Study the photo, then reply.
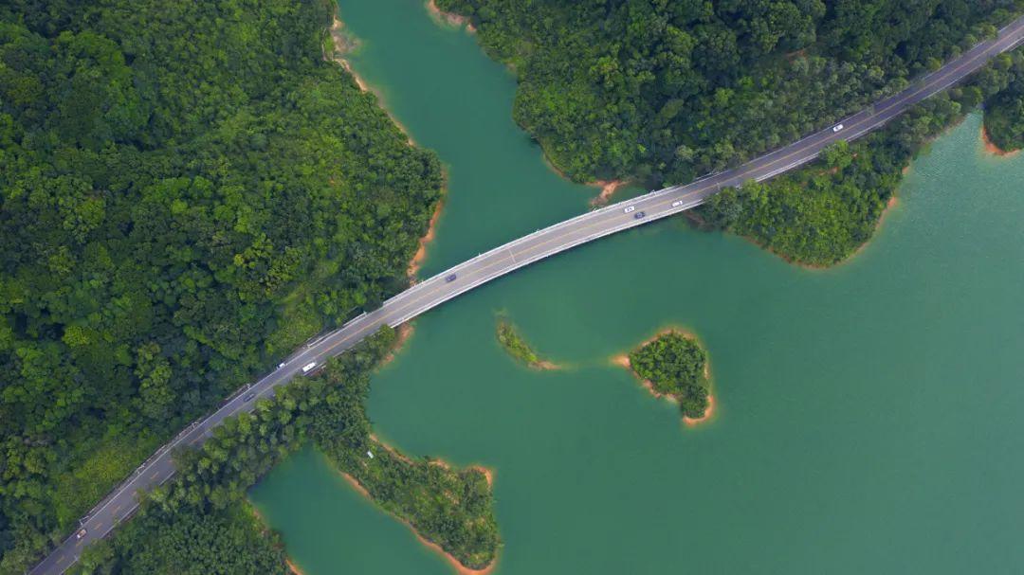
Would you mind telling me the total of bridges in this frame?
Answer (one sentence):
The picture shows 1 bridge.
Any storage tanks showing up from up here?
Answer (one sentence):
No, the picture doesn't show any storage tank.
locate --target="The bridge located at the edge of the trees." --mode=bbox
[377,177,706,331]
